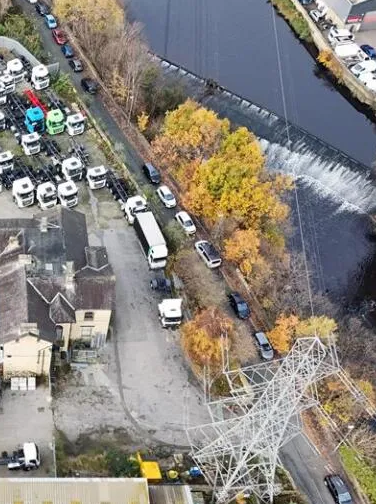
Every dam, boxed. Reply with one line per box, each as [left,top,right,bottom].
[149,52,376,219]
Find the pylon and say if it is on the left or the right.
right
